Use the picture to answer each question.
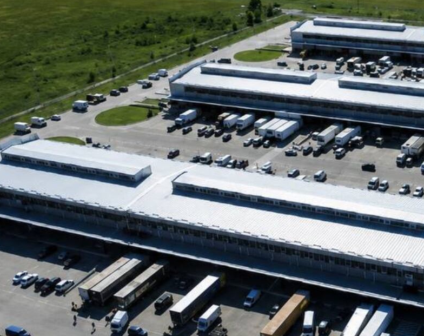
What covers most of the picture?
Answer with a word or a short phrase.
buildings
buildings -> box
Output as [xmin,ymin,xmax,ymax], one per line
[0,129,424,320]
[165,57,424,140]
[285,15,424,65]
